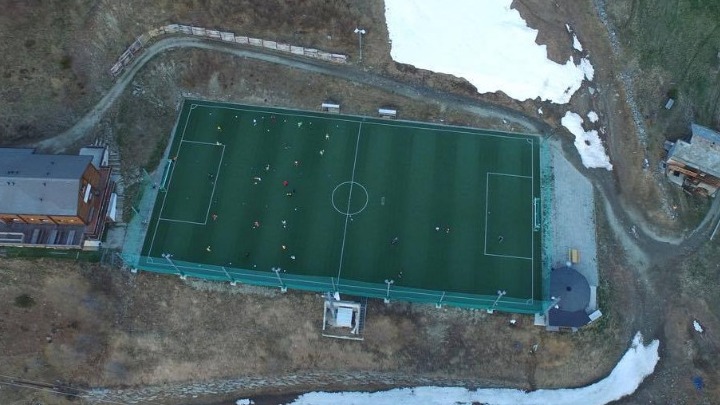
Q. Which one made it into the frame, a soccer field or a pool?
soccer field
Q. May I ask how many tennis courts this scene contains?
zero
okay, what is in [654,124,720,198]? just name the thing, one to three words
barn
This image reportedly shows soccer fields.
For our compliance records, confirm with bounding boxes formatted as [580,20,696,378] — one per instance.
[136,97,542,312]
